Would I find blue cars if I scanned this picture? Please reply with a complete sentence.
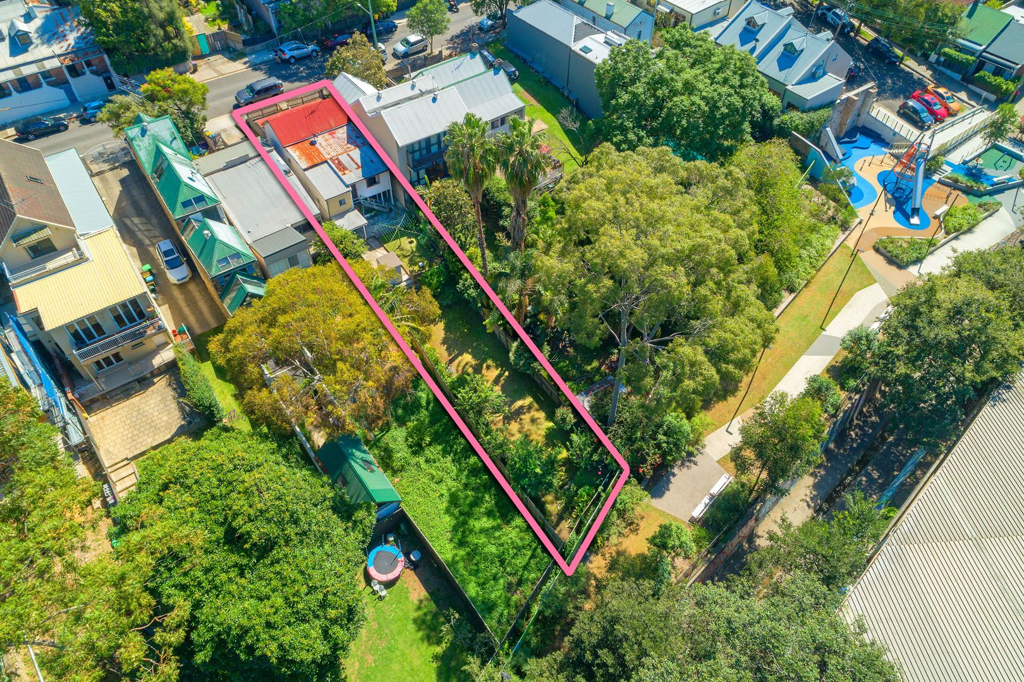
Yes, a blue car appears in the view.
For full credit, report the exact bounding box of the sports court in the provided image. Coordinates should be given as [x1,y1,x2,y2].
[961,144,1024,196]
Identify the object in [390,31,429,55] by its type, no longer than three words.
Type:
car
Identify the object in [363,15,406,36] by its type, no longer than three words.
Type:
car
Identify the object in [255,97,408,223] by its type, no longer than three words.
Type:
house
